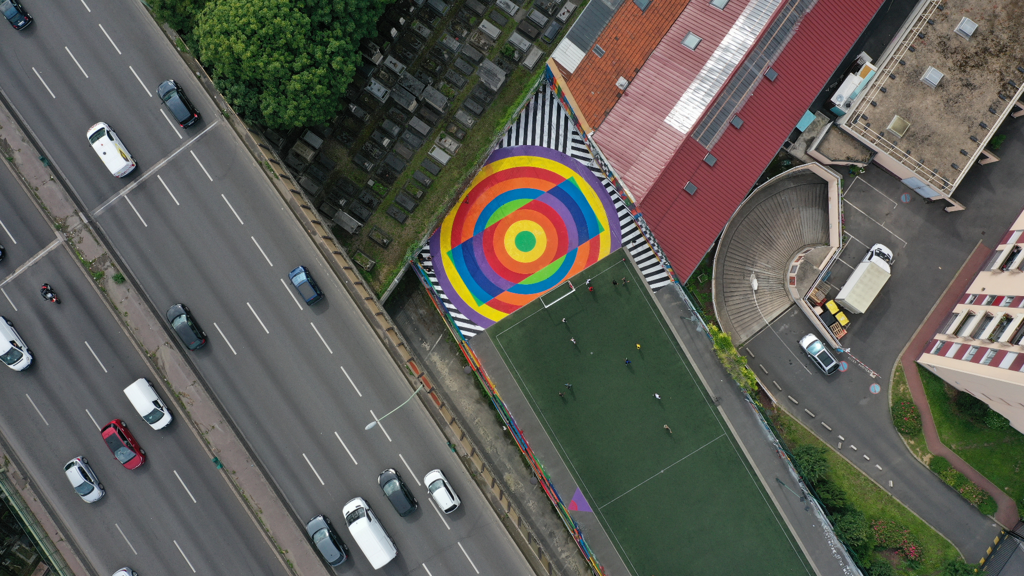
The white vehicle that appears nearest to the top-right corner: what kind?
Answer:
truck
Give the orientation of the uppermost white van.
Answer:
on a diagonal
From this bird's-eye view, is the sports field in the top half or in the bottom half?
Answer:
bottom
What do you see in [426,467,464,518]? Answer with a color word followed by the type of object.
white car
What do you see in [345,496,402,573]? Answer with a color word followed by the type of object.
white van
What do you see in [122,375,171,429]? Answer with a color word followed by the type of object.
white van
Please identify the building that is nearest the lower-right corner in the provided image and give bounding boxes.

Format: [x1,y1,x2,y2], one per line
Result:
[917,209,1024,436]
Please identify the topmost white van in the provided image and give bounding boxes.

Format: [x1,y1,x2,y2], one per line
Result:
[87,117,138,176]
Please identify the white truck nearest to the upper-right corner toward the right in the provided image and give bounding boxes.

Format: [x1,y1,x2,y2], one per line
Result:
[835,241,898,317]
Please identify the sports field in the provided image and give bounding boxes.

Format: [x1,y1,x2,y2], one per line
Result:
[486,249,813,576]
